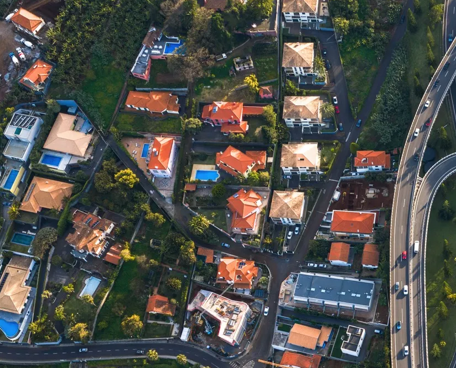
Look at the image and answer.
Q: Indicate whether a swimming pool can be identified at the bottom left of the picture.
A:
Yes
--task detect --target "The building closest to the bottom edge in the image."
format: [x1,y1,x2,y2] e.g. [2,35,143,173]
[280,349,322,368]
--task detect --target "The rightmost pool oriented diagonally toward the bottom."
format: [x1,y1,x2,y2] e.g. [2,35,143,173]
[77,276,103,298]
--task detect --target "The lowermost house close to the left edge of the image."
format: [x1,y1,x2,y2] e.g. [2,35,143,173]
[0,255,37,316]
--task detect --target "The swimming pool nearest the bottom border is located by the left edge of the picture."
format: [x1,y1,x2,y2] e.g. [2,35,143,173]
[0,317,19,338]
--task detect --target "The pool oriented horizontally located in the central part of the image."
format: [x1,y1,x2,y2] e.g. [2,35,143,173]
[193,169,220,182]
